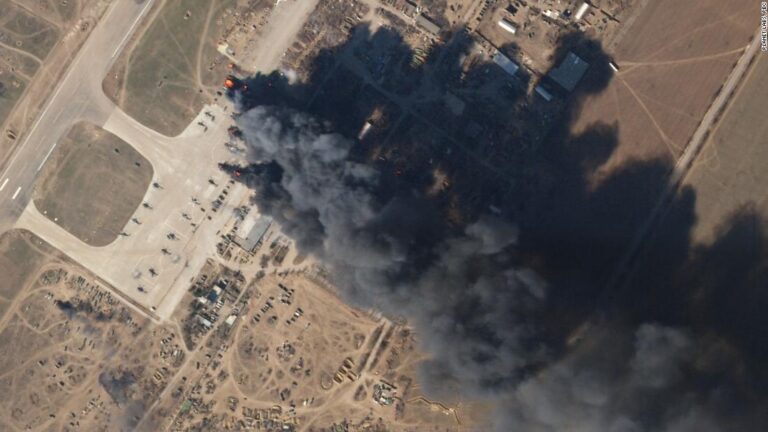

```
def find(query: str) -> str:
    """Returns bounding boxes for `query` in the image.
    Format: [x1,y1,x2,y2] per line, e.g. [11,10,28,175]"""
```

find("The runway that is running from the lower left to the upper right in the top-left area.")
[0,0,156,236]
